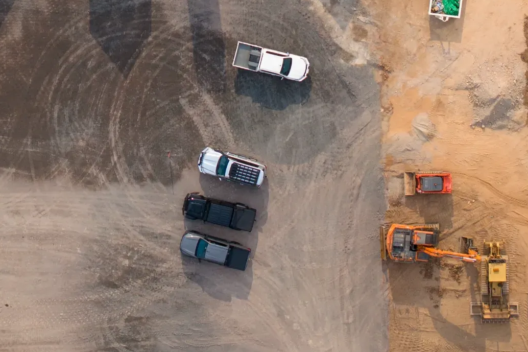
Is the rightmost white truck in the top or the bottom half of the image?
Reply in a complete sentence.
The top half of the photo is where the rightmost white truck is.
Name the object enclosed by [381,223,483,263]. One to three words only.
work vehicle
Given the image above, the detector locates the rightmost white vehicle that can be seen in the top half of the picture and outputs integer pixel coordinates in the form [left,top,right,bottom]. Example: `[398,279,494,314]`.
[233,41,310,80]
